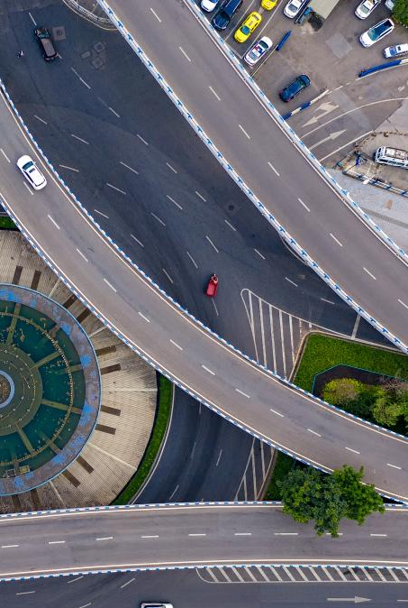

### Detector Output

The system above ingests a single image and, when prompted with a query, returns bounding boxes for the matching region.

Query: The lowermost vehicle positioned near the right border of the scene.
[370,149,408,171]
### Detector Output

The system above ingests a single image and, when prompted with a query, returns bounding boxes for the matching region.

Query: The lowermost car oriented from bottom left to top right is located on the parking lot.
[278,75,307,102]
